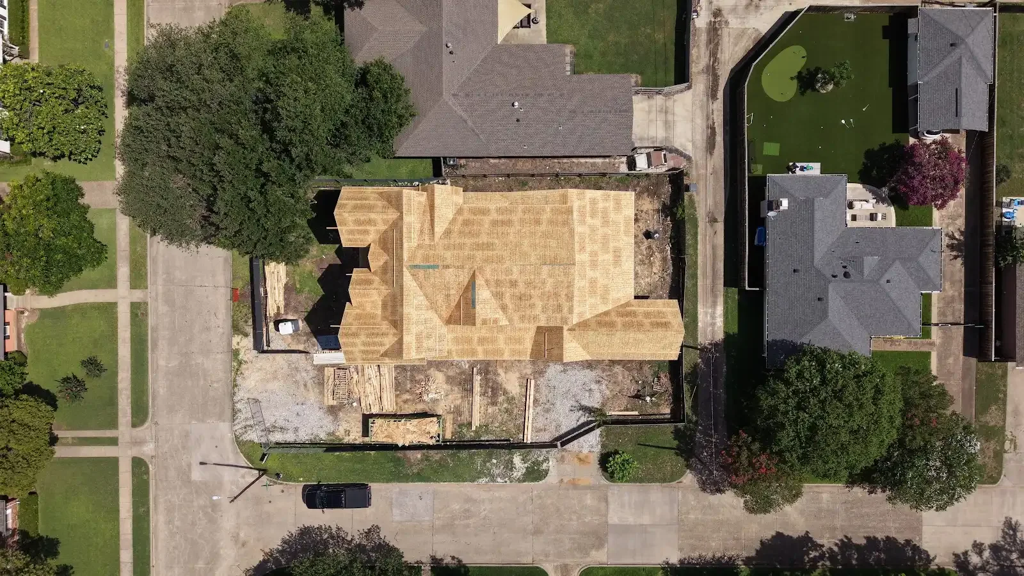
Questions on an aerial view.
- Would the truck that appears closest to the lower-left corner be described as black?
Yes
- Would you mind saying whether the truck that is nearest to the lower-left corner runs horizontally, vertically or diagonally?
horizontally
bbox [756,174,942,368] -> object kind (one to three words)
house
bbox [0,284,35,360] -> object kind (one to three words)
house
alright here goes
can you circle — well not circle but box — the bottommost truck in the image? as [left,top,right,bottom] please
[302,486,374,518]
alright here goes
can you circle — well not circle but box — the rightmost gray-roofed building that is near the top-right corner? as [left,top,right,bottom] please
[896,8,994,133]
